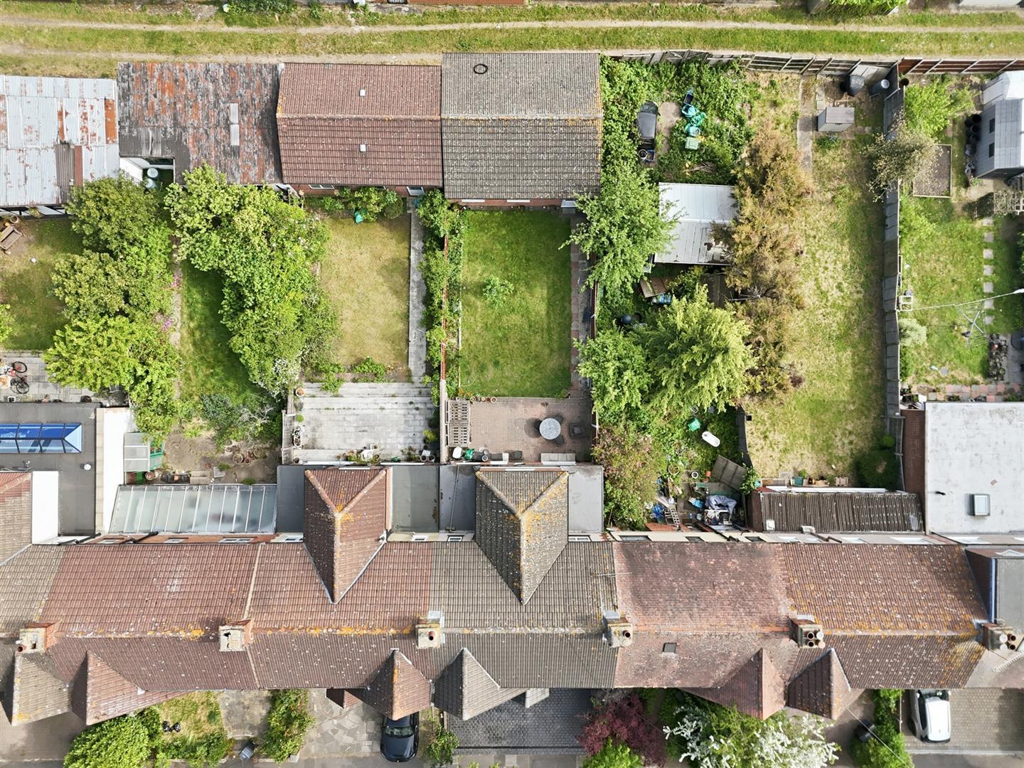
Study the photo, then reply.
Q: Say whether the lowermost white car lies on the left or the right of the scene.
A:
right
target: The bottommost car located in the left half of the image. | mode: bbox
[378,709,423,762]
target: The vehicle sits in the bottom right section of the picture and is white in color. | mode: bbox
[909,691,951,740]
